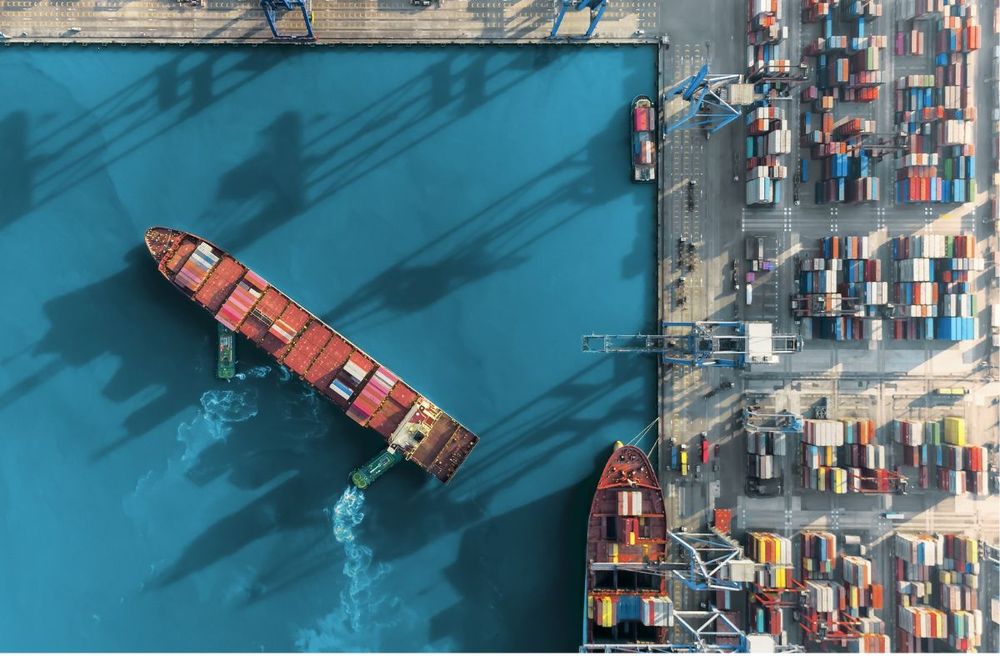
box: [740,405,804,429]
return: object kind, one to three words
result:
container crane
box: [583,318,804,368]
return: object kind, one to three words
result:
container crane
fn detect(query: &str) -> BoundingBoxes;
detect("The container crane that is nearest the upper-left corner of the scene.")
[250,0,318,40]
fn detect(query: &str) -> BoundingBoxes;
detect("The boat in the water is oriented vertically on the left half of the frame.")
[216,322,236,380]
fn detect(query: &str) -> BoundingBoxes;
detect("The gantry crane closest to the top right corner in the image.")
[837,131,906,163]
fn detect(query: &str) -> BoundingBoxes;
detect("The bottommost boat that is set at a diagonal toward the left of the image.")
[348,447,398,491]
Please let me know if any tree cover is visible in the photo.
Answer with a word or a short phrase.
No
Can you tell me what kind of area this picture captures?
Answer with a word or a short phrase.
port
